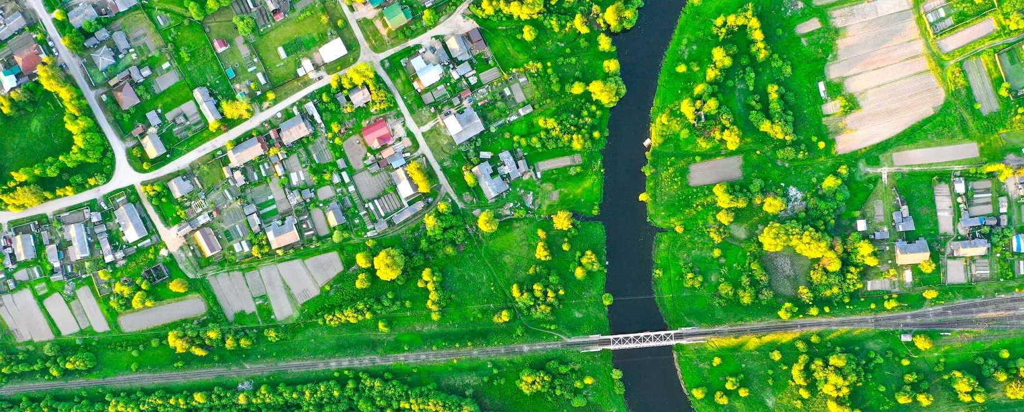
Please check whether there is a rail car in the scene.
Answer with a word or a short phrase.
No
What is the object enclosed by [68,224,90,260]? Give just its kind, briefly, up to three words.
house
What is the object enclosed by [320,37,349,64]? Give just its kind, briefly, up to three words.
building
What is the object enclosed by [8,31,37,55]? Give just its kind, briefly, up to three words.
barn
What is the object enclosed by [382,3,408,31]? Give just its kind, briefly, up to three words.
house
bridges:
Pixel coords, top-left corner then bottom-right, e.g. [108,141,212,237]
[573,326,708,354]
